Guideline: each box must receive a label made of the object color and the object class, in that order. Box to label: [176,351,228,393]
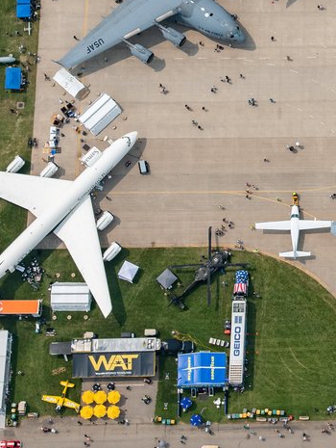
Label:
blue tent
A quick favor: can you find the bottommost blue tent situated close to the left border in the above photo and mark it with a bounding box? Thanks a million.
[5,69,23,91]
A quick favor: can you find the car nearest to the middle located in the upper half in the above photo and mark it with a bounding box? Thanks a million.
[136,155,149,181]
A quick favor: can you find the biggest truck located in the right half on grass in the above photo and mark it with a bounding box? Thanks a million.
[227,300,248,389]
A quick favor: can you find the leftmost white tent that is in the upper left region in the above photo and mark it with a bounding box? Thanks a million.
[52,72,89,100]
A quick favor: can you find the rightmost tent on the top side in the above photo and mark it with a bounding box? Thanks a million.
[74,89,125,140]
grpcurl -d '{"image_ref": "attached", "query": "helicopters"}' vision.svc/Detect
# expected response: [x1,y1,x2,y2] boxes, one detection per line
[168,228,250,308]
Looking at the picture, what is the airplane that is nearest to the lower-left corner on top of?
grass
